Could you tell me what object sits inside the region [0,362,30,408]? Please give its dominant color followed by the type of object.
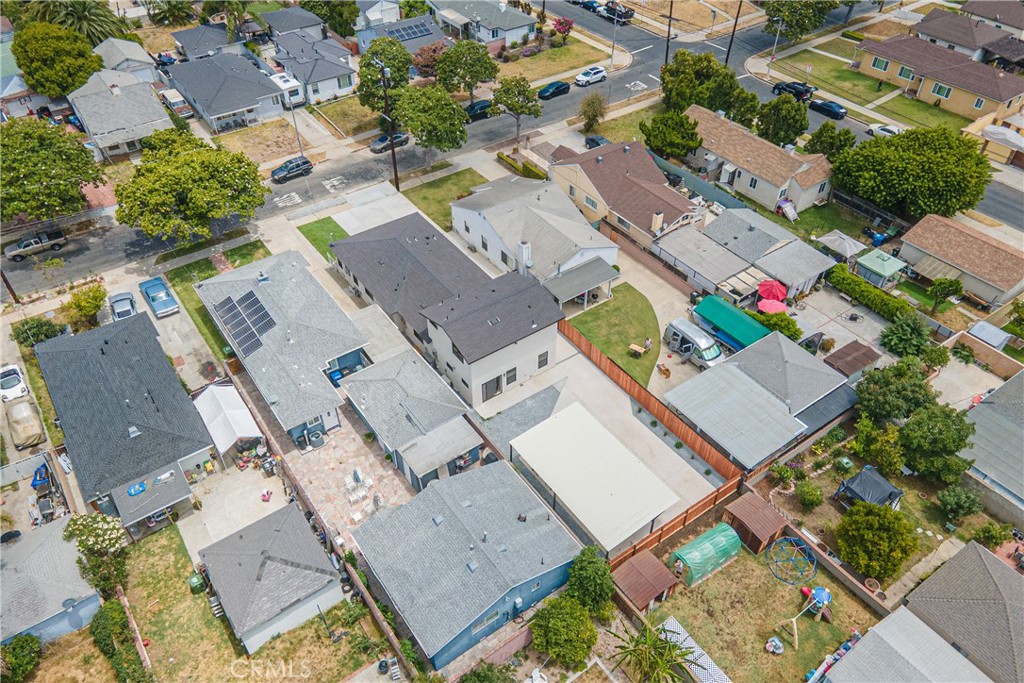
white car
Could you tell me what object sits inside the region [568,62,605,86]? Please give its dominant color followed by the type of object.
white car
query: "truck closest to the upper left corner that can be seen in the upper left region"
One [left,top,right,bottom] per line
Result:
[161,88,191,118]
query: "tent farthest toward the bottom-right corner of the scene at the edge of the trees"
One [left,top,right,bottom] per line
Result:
[832,465,903,516]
